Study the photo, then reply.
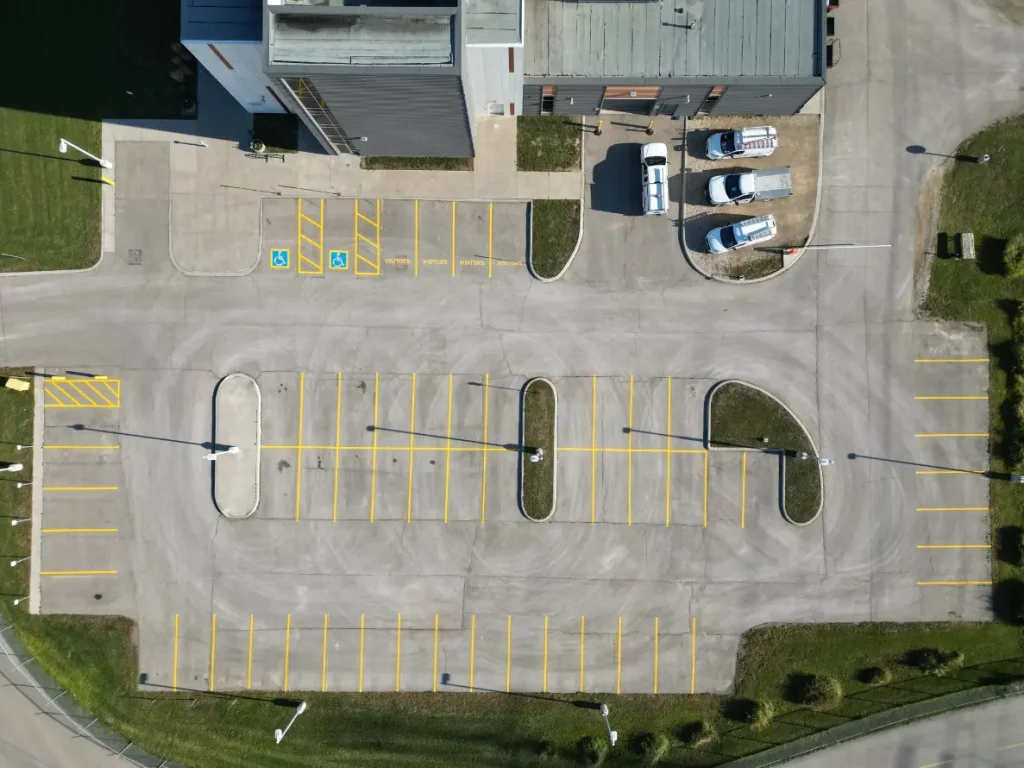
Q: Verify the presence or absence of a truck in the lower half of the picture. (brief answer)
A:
No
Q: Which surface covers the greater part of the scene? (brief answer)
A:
paved ground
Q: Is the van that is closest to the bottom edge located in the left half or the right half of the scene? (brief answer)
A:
right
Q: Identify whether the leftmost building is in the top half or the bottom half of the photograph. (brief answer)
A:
top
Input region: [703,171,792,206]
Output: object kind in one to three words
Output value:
truck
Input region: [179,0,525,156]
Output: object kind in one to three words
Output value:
building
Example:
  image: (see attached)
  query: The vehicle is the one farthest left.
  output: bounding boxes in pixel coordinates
[640,141,672,216]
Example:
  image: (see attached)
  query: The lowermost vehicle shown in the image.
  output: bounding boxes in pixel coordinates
[704,213,776,255]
